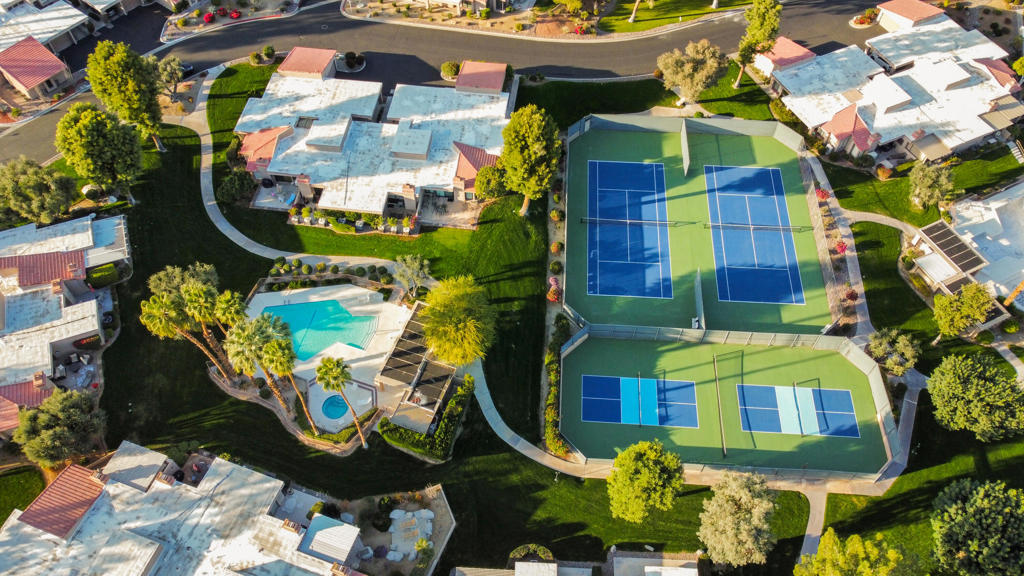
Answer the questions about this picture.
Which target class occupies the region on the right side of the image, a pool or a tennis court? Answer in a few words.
tennis court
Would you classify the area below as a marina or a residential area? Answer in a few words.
residential area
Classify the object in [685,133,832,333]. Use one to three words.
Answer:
tennis court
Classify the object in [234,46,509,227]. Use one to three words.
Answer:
house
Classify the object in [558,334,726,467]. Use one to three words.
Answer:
sports court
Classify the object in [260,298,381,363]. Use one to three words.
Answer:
swimming pool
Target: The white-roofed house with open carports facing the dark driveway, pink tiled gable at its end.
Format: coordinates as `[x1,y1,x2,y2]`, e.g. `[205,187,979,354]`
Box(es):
[0,0,92,106]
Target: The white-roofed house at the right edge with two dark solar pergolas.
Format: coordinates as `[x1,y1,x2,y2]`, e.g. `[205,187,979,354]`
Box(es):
[912,178,1024,339]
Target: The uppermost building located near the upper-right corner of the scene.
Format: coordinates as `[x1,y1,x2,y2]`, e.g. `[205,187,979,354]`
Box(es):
[747,0,1024,176]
